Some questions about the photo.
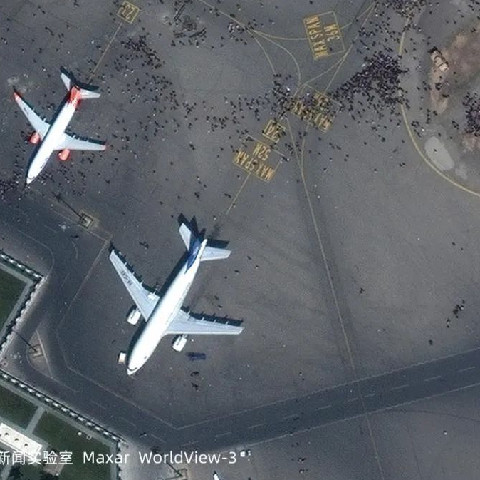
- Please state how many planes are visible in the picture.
2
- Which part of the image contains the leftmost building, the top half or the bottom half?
bottom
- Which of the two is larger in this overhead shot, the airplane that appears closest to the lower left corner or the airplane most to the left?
the airplane that appears closest to the lower left corner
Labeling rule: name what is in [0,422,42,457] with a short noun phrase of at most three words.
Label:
building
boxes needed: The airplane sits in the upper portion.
[13,73,106,183]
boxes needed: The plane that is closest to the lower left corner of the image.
[109,222,242,372]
